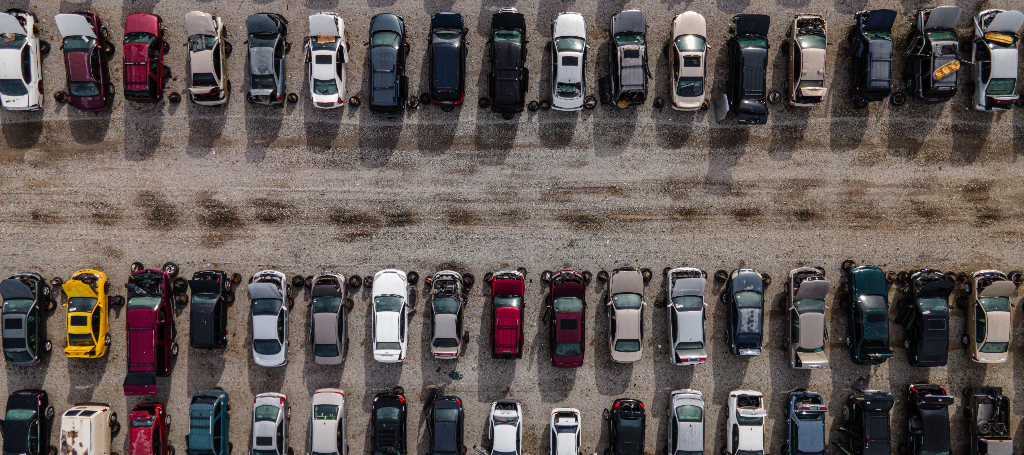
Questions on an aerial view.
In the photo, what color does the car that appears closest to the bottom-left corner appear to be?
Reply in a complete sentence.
From above, the car that appears closest to the bottom-left corner appears black.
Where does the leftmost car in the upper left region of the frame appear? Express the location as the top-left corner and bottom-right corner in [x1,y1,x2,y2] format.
[0,9,46,110]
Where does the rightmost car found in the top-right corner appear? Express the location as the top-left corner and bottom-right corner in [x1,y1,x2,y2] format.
[972,10,1021,111]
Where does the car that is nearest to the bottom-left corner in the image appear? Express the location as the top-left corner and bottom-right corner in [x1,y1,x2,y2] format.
[1,389,52,455]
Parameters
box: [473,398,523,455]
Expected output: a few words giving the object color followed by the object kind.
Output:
white car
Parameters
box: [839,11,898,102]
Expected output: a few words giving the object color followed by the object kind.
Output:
black car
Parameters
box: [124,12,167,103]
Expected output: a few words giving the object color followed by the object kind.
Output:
red car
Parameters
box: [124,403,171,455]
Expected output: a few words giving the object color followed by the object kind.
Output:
red car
